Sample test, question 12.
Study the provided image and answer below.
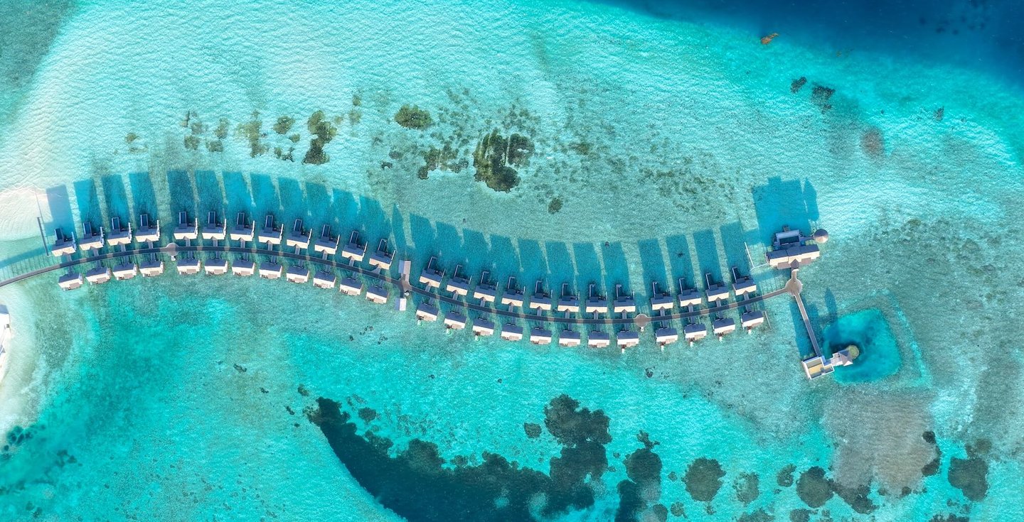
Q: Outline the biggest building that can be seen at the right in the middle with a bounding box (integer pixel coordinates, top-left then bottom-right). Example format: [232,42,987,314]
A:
[762,226,819,270]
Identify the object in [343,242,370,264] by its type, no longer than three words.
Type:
house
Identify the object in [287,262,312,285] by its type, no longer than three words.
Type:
house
